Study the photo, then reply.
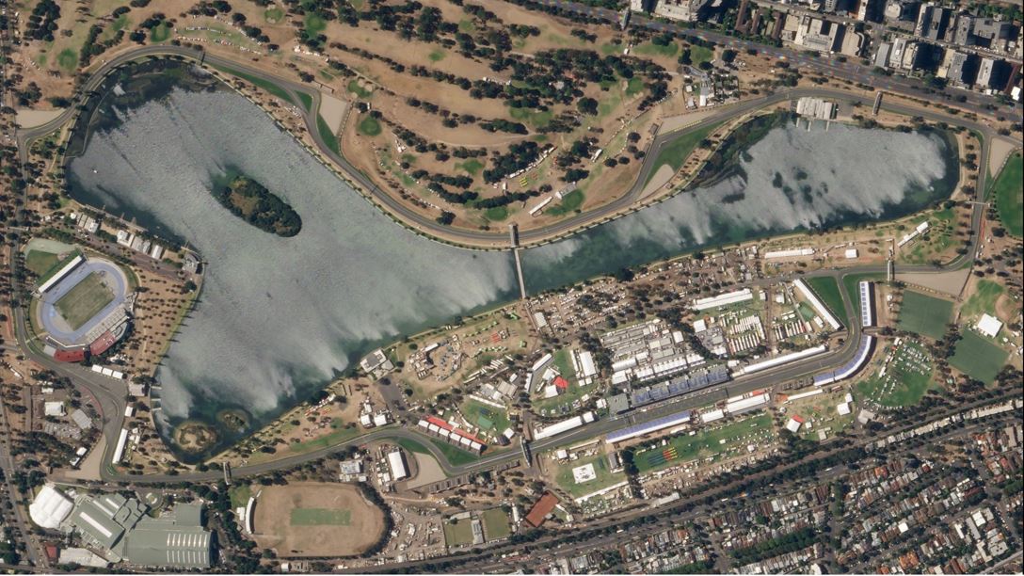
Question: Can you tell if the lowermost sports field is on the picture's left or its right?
left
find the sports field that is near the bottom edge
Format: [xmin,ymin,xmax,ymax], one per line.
[250,482,384,558]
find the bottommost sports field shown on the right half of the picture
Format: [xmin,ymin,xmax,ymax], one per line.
[948,330,1009,387]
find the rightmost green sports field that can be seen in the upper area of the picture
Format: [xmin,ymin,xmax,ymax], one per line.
[995,152,1024,235]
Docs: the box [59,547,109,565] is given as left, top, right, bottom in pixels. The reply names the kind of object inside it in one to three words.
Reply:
building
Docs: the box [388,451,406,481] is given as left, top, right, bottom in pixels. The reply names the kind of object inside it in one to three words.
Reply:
tent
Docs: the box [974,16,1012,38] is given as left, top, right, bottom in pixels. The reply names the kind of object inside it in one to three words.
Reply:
building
